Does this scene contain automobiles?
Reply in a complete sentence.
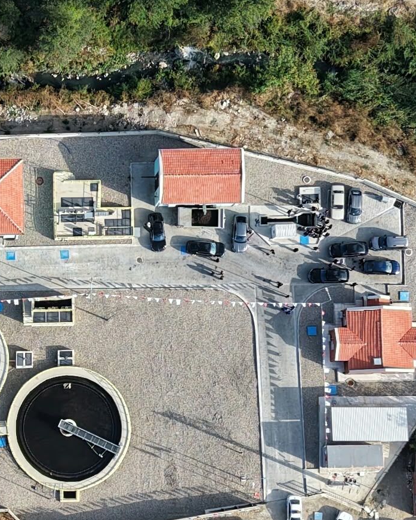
Yes, I can see an automobile in this picture.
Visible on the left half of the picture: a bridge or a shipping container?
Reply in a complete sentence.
The feature located on the left half of the picture is a bridge.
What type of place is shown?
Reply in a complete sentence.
This image shows an industrial area.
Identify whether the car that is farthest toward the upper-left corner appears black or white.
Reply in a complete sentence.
From above, the car that is farthest toward the upper-left corner appears black.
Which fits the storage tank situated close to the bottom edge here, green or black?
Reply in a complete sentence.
The storage tank situated close to the bottom edge is black.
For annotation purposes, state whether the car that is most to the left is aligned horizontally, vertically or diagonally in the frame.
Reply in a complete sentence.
I'd say the car that is most to the left is aligned vertically in the picture.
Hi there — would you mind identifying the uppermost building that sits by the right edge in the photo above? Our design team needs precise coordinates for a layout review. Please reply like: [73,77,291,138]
[326,294,416,381]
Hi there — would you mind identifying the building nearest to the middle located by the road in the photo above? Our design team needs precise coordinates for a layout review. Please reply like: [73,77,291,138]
[151,148,248,216]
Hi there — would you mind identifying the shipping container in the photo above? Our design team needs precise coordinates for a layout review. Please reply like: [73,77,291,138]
[319,445,390,473]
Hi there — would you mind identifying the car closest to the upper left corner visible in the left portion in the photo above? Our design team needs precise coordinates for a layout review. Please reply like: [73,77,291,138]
[147,212,168,253]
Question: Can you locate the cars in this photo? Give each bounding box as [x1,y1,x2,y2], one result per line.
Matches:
[336,510,354,520]
[345,187,365,224]
[329,240,369,258]
[285,496,305,520]
[185,240,225,257]
[368,233,409,251]
[329,186,347,220]
[308,266,349,284]
[361,258,400,275]
[147,212,168,253]
[231,215,251,253]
